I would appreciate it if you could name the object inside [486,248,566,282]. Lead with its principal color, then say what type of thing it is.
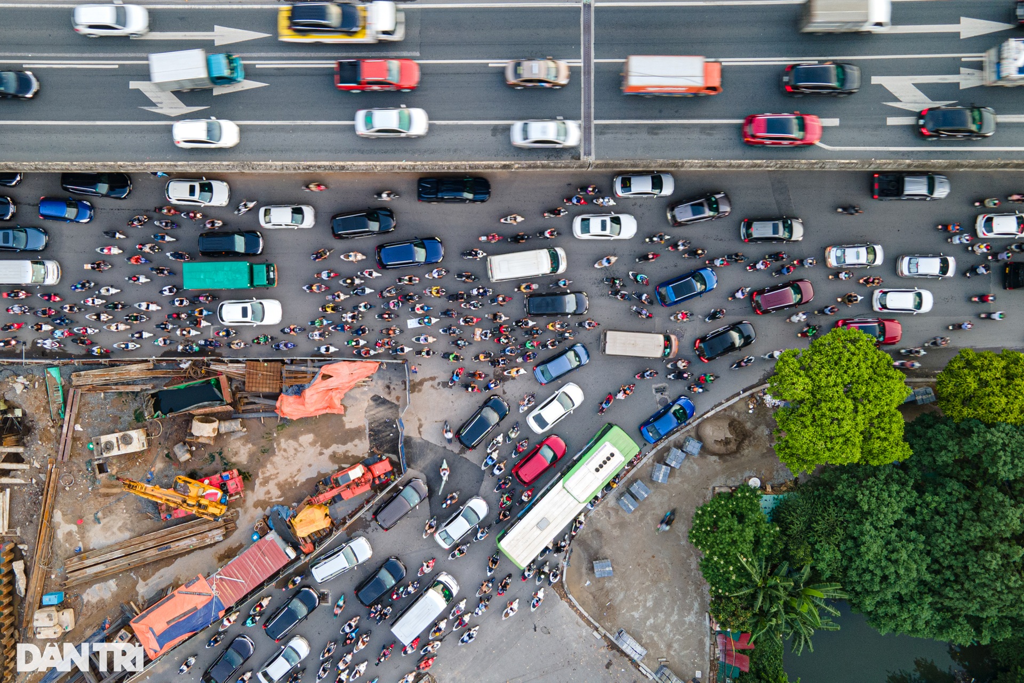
white vehicle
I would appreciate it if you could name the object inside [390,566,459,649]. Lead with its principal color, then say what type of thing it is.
white van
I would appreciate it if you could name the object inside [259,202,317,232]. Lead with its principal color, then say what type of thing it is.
white car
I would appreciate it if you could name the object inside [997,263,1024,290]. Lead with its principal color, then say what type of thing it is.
black truck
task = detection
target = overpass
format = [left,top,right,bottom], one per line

[0,0,1024,172]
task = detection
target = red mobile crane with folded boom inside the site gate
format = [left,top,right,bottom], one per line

[308,442,395,505]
